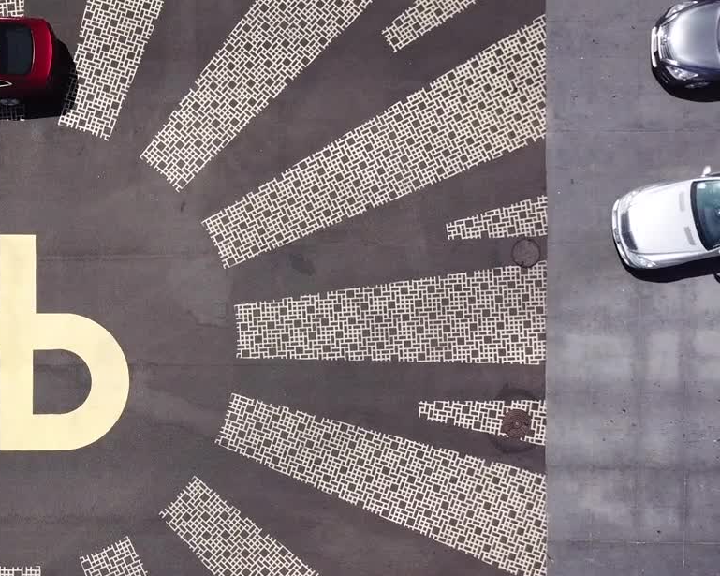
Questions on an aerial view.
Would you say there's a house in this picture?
No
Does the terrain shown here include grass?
No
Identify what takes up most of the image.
paved ground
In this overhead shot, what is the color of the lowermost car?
white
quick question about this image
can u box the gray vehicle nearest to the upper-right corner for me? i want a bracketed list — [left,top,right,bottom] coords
[650,0,720,80]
